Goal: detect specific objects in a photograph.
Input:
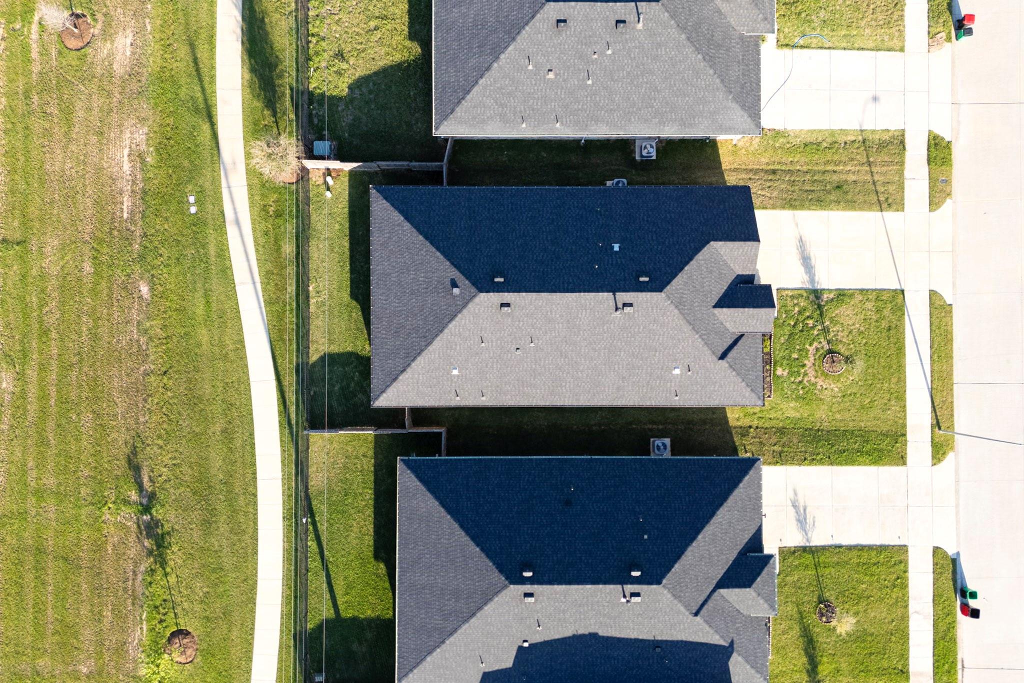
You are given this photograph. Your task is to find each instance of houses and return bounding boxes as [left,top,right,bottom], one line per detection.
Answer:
[370,186,776,407]
[398,457,779,683]
[433,0,775,146]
